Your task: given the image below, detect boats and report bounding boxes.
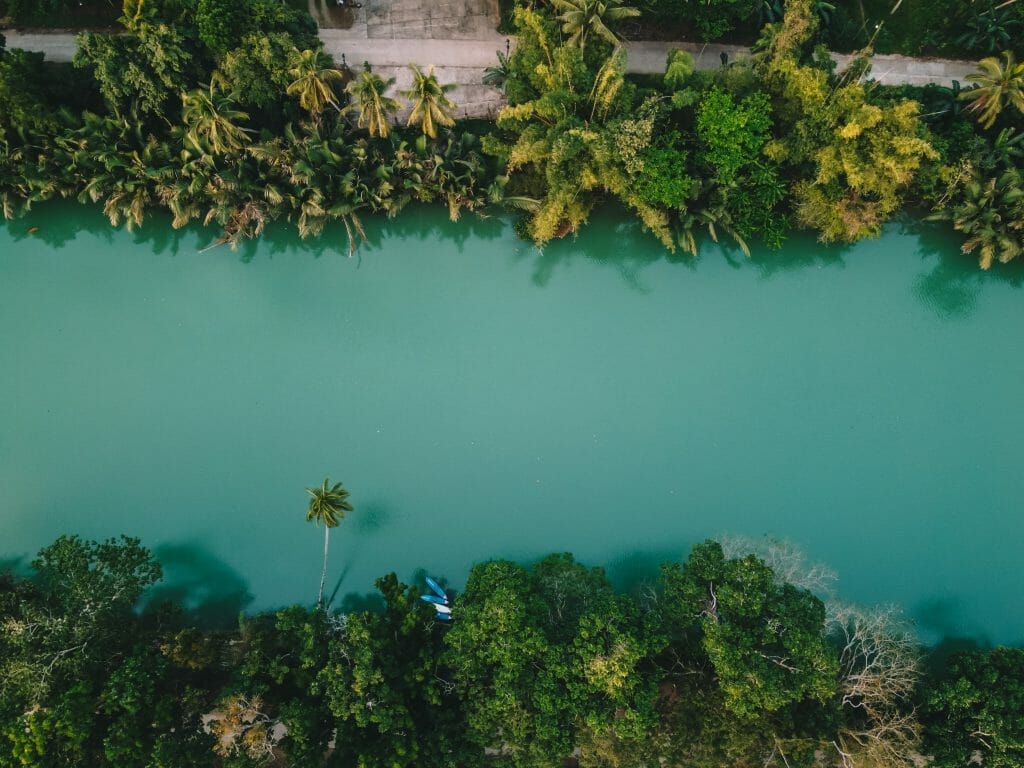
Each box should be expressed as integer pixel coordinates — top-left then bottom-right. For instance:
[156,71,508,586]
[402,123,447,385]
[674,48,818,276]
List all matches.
[425,577,446,599]
[421,596,449,603]
[433,603,451,612]
[430,612,451,619]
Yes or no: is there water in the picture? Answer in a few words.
Yes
